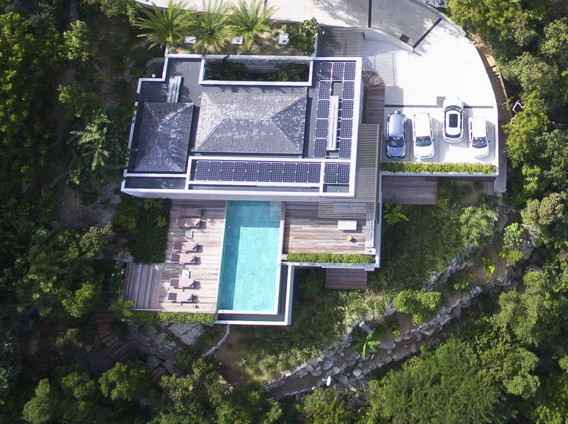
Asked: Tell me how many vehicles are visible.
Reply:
4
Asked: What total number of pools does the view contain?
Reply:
1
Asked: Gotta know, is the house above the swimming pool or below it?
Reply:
above it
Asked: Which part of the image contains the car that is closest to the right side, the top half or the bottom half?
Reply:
top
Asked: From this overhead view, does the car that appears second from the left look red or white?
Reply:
white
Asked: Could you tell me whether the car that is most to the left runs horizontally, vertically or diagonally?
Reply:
vertically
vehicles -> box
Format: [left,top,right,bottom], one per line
[442,97,466,142]
[384,109,408,159]
[468,117,492,159]
[411,112,435,159]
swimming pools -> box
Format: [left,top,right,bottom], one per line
[215,198,290,315]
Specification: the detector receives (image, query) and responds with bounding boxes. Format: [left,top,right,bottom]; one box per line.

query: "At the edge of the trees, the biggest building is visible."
[121,56,366,201]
